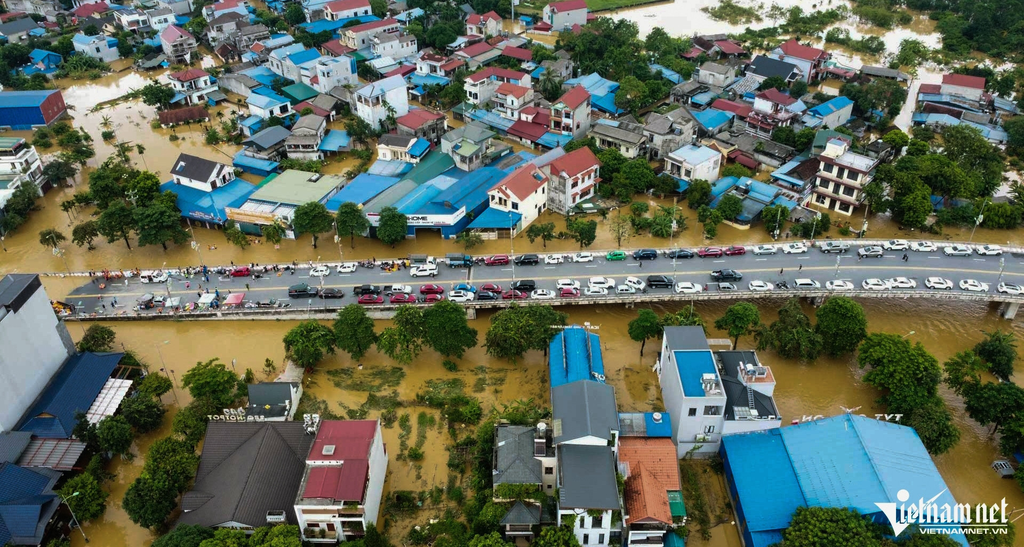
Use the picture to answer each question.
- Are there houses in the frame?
Yes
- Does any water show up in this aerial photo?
Yes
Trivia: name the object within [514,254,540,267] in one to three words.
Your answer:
vehicle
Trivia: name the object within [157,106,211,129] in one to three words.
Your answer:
shed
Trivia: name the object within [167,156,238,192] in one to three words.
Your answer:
house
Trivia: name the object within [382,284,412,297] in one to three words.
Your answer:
vehicle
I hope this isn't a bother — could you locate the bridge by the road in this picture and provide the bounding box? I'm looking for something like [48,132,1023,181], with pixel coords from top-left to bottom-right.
[50,243,1024,319]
